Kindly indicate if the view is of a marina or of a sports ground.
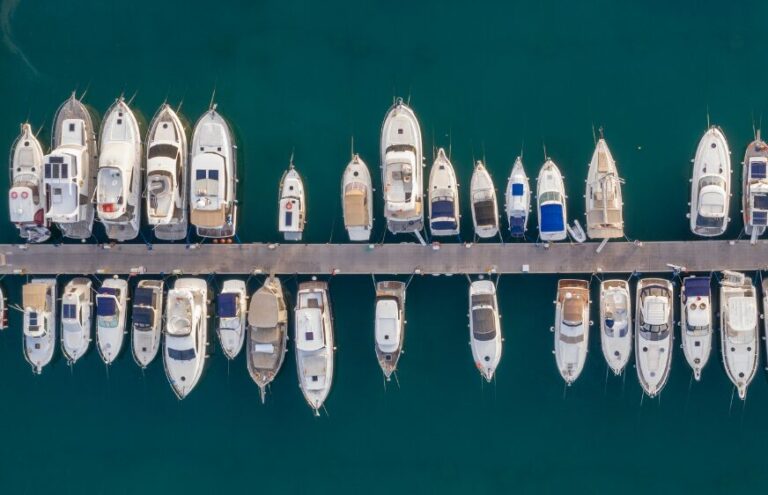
marina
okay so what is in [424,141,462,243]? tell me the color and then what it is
white boat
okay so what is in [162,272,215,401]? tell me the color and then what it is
white boat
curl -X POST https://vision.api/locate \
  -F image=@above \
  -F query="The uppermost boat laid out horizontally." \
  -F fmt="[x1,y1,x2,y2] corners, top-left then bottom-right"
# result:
[16,229,48,242]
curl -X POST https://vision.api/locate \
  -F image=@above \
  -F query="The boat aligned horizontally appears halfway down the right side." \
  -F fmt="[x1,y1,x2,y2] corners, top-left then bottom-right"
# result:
[722,270,748,284]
